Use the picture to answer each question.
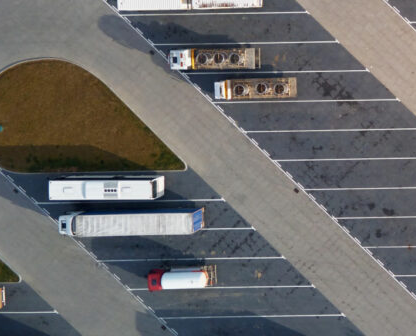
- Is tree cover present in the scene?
No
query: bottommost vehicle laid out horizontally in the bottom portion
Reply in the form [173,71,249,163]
[147,263,221,292]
